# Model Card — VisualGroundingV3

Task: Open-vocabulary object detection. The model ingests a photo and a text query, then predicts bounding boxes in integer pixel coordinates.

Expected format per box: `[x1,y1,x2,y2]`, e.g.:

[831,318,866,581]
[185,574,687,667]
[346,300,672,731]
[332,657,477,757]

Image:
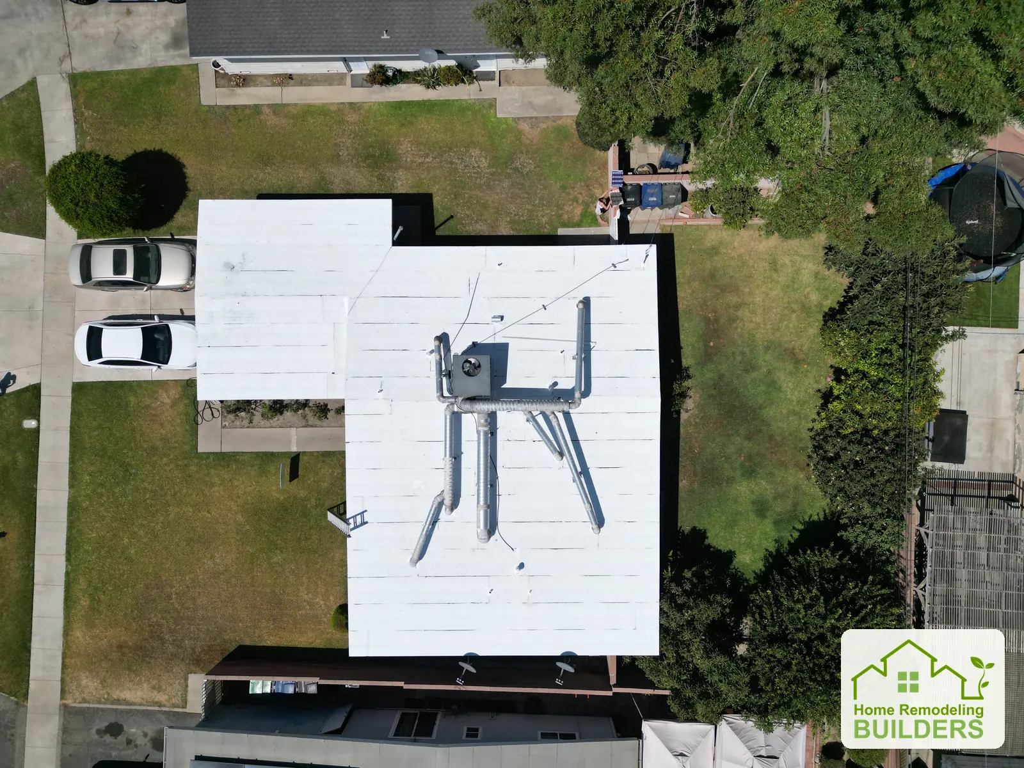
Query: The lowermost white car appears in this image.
[74,316,197,376]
